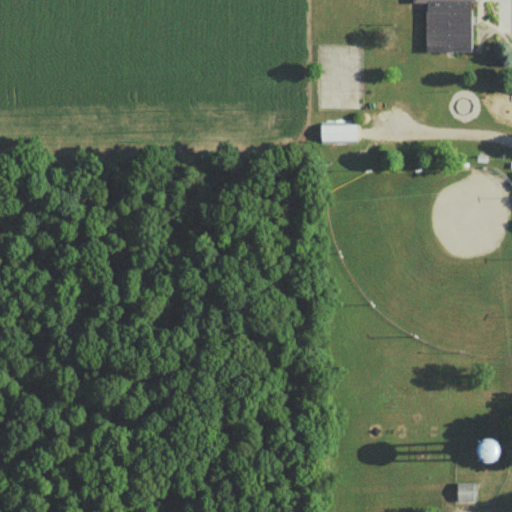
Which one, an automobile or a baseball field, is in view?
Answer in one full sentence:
The image shows a baseball field.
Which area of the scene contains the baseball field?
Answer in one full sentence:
You can find the baseball field in the right area of the picture.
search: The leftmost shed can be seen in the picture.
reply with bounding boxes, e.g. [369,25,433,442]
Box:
[322,122,360,141]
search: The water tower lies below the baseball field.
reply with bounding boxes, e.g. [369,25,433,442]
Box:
[474,439,500,465]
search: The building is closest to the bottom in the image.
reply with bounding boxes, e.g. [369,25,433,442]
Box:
[458,484,478,503]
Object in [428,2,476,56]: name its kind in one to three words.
building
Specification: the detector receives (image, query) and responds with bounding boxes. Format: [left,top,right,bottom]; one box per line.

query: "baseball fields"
[329,170,510,358]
